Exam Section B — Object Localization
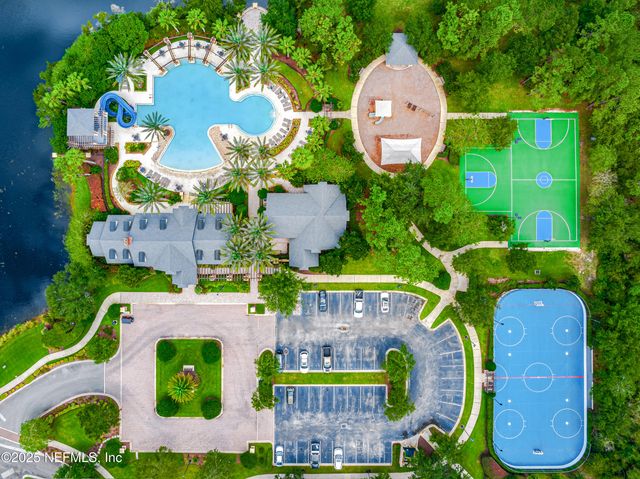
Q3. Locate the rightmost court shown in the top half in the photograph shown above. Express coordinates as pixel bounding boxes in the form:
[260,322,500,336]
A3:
[508,109,581,250]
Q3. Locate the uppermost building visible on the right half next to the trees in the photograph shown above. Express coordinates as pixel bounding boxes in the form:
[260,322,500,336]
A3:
[384,34,418,69]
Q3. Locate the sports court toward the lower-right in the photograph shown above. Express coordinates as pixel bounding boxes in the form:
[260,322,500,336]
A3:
[492,289,591,472]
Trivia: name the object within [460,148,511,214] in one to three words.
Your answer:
basketball court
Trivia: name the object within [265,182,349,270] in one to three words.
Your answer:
building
